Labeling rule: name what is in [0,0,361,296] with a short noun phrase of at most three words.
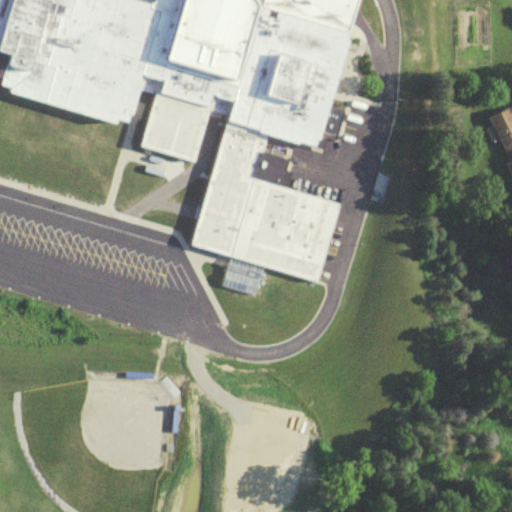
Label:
building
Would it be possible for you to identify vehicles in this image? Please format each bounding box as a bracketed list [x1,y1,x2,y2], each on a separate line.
[296,178,304,190]
[338,190,346,202]
[346,114,364,124]
[332,188,340,201]
[304,180,311,192]
[262,160,268,170]
[316,184,324,196]
[324,186,332,199]
[351,101,370,110]
[310,182,318,194]
[292,178,298,190]
[343,134,358,143]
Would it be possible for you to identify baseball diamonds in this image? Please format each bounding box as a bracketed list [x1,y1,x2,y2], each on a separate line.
[14,370,177,512]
